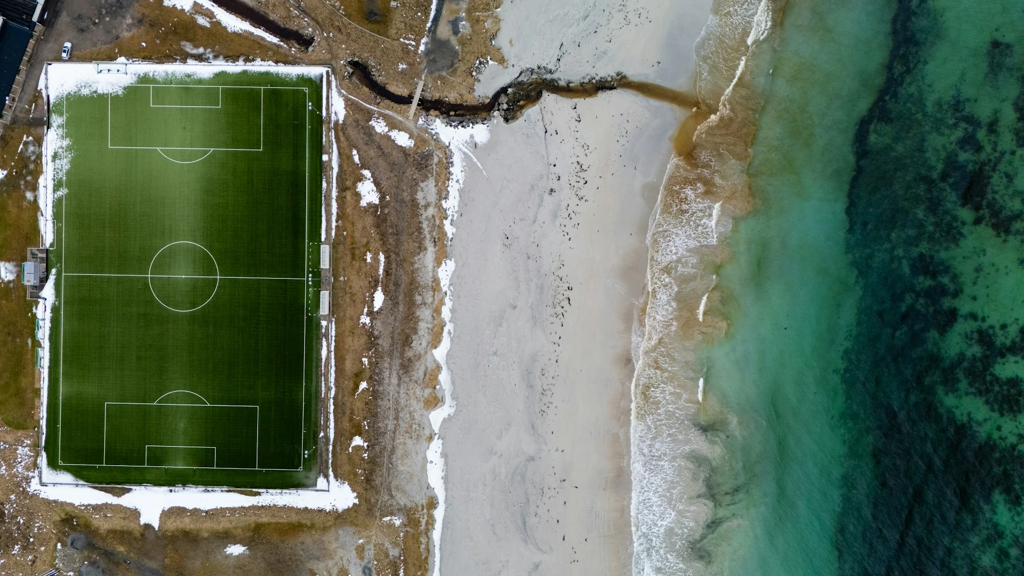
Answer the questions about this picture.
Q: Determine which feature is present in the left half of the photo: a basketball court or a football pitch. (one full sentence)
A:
It is a football pitch that can be seen in the left half of the photo.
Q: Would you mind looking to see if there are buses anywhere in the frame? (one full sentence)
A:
No, I find no bus anywhere in the image.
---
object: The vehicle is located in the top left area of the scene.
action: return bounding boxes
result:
[59,41,71,59]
